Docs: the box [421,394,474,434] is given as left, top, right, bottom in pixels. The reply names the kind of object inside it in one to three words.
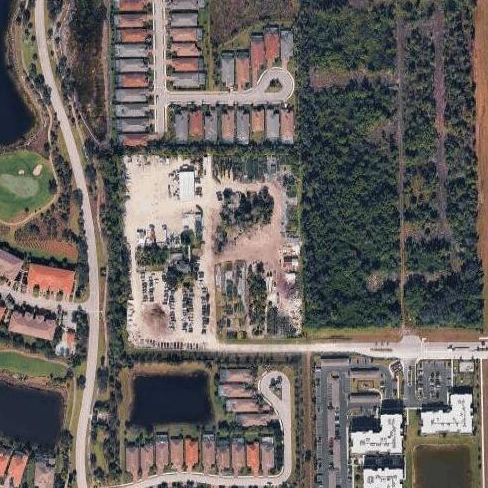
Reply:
building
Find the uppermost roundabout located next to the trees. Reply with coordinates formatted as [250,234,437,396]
[239,68,294,102]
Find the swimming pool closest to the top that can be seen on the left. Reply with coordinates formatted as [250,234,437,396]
[55,340,70,357]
